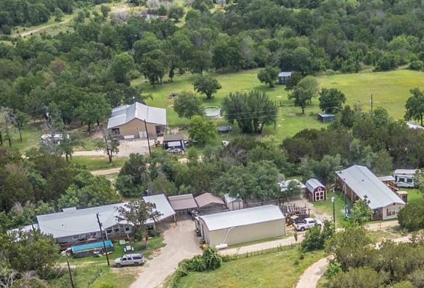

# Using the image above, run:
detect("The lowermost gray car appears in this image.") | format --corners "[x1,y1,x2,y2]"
[113,251,144,266]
